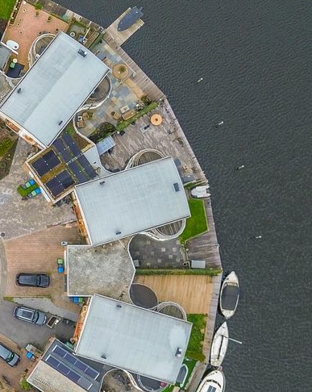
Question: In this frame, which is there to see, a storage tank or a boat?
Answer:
boat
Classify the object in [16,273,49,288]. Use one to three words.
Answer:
car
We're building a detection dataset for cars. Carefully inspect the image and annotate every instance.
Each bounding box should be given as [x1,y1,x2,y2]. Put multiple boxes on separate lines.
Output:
[16,273,49,288]
[0,342,19,366]
[14,306,48,325]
